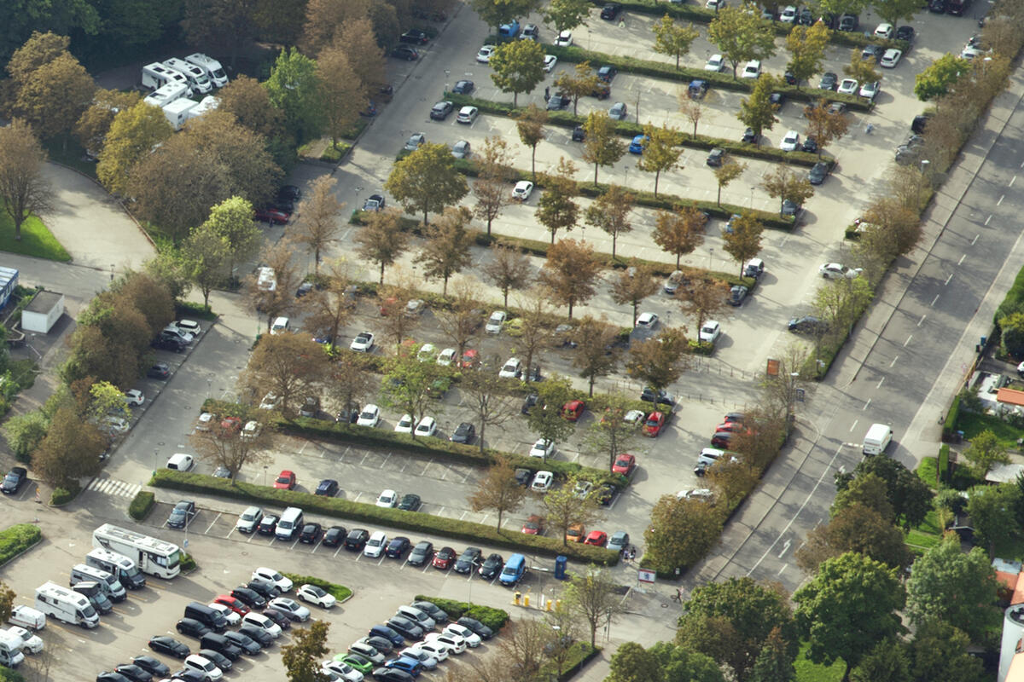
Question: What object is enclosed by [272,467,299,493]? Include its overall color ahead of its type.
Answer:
red car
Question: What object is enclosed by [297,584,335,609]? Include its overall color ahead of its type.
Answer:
white car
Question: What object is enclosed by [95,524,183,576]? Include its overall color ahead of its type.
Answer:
white vehicle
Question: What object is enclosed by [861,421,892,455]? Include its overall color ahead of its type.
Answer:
white van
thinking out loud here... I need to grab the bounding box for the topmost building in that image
[19,287,64,333]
